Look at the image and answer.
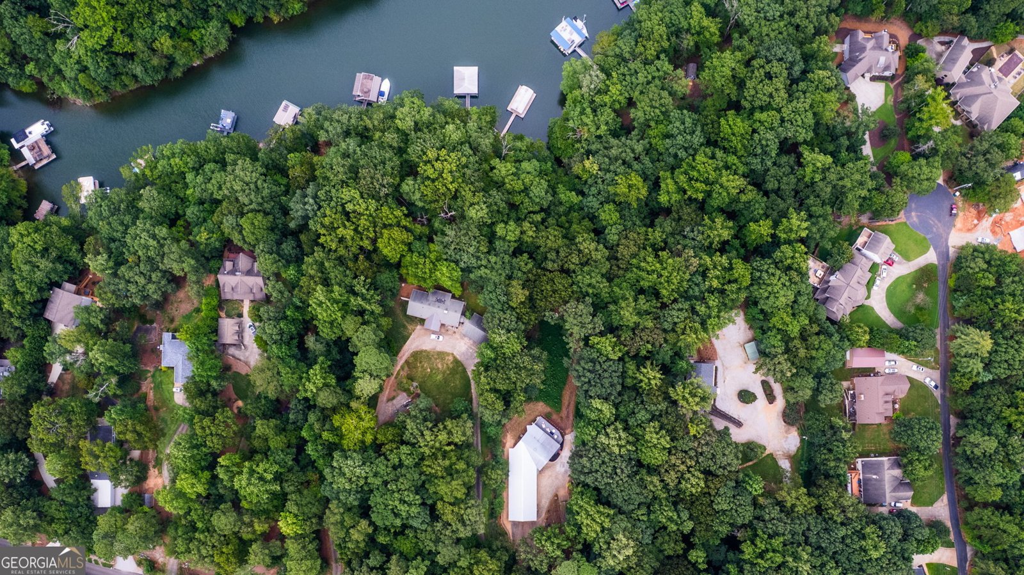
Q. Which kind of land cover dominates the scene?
trees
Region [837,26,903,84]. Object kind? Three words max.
house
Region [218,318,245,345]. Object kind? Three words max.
building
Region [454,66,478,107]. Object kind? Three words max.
pier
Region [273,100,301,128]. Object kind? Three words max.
pier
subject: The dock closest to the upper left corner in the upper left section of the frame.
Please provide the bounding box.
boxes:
[12,134,56,171]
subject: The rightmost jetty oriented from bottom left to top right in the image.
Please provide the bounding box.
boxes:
[499,85,536,138]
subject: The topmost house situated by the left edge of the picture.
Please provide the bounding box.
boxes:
[44,275,95,326]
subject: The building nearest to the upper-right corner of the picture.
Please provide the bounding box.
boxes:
[935,35,1021,130]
